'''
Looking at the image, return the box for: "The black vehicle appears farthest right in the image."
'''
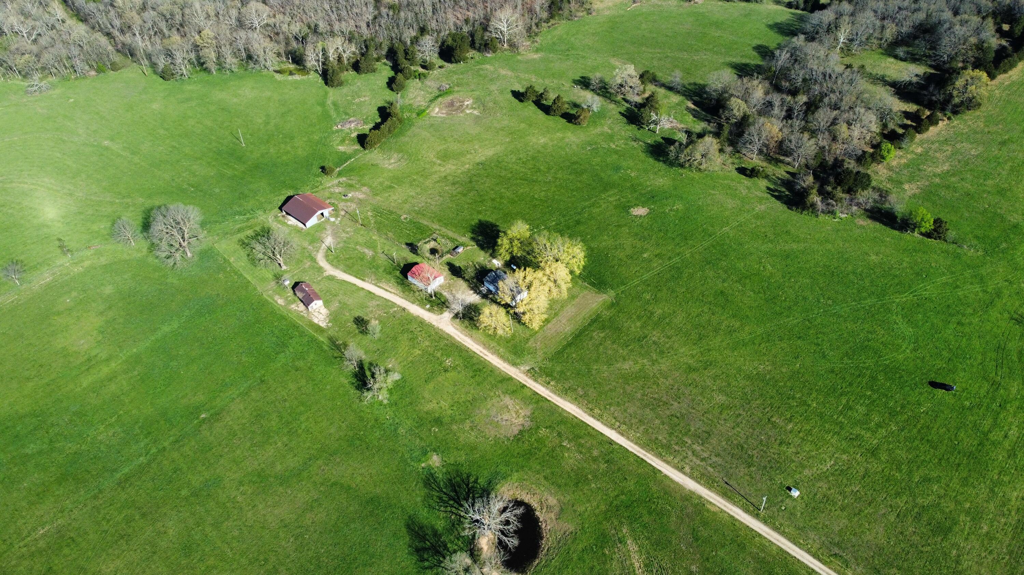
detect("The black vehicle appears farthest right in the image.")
[934,381,955,393]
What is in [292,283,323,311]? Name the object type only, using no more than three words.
shed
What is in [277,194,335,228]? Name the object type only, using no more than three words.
barn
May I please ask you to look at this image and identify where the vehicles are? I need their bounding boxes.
[489,259,502,267]
[934,381,955,393]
